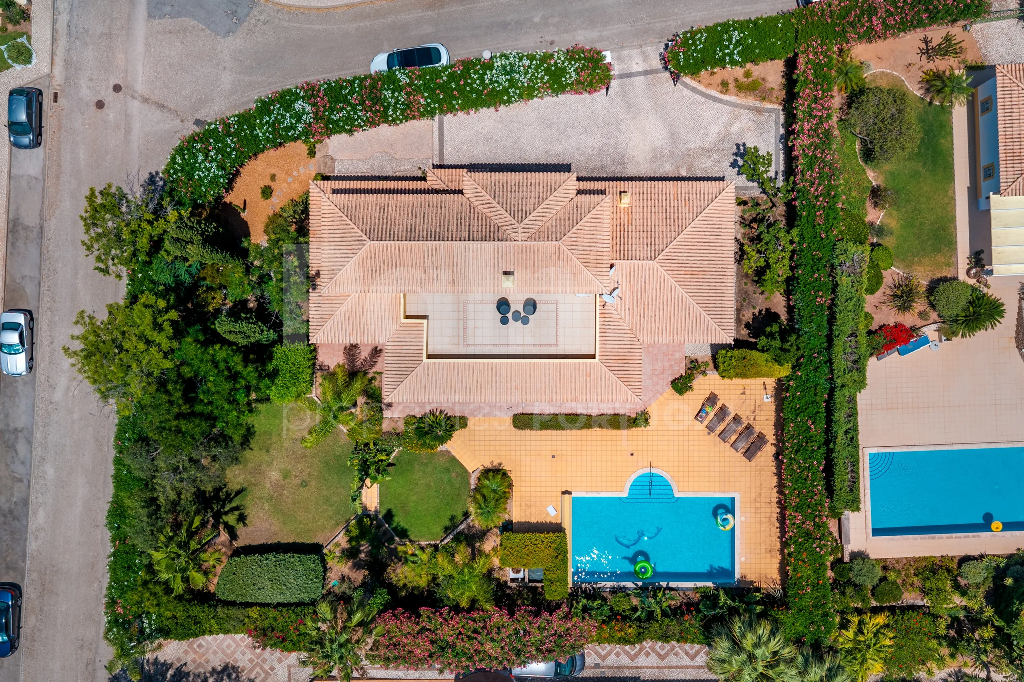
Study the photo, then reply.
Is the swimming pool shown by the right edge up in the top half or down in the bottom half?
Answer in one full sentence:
You can find the swimming pool shown by the right edge in the bottom half.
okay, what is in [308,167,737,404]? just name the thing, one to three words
house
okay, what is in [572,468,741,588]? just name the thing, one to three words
swimming pool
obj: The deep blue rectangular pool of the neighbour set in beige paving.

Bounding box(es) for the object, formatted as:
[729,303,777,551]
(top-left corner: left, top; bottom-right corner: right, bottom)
[864,442,1024,543]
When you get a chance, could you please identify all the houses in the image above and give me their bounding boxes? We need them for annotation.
[975,63,1024,220]
[308,167,737,404]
